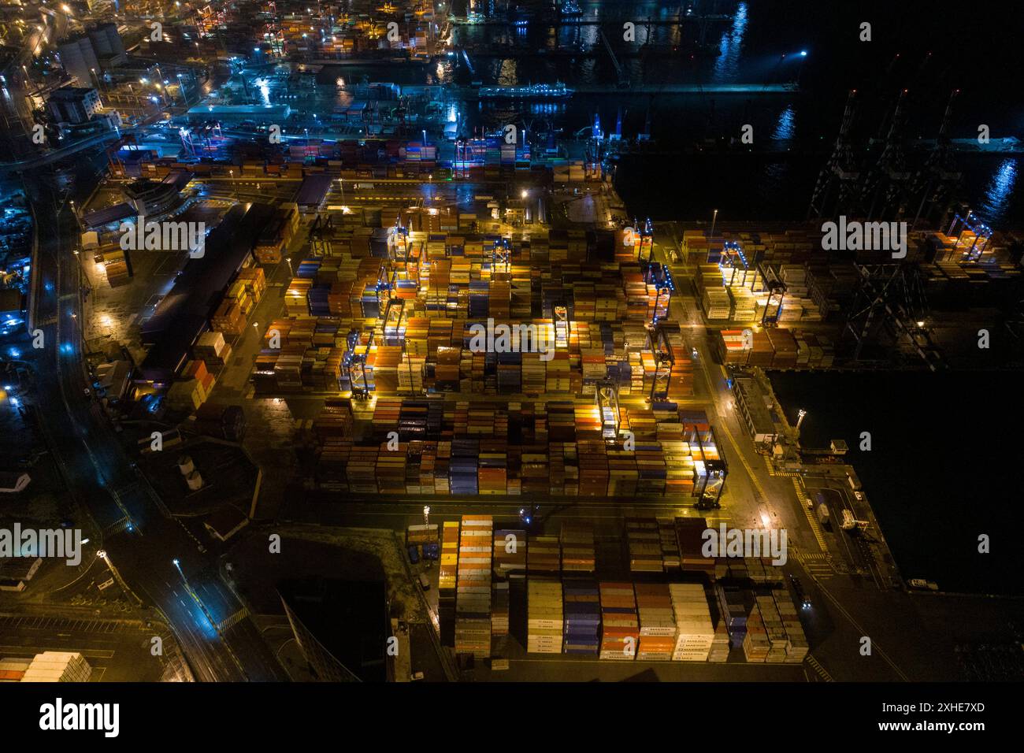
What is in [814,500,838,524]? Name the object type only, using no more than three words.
truck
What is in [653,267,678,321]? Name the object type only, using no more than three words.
container crane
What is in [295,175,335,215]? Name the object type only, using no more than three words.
shed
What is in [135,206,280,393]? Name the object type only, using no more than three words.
warehouse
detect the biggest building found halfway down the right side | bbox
[733,371,780,443]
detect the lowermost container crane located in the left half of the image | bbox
[344,332,376,398]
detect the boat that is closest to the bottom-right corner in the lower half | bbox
[903,574,940,590]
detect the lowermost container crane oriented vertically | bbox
[695,422,736,506]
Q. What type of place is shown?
port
